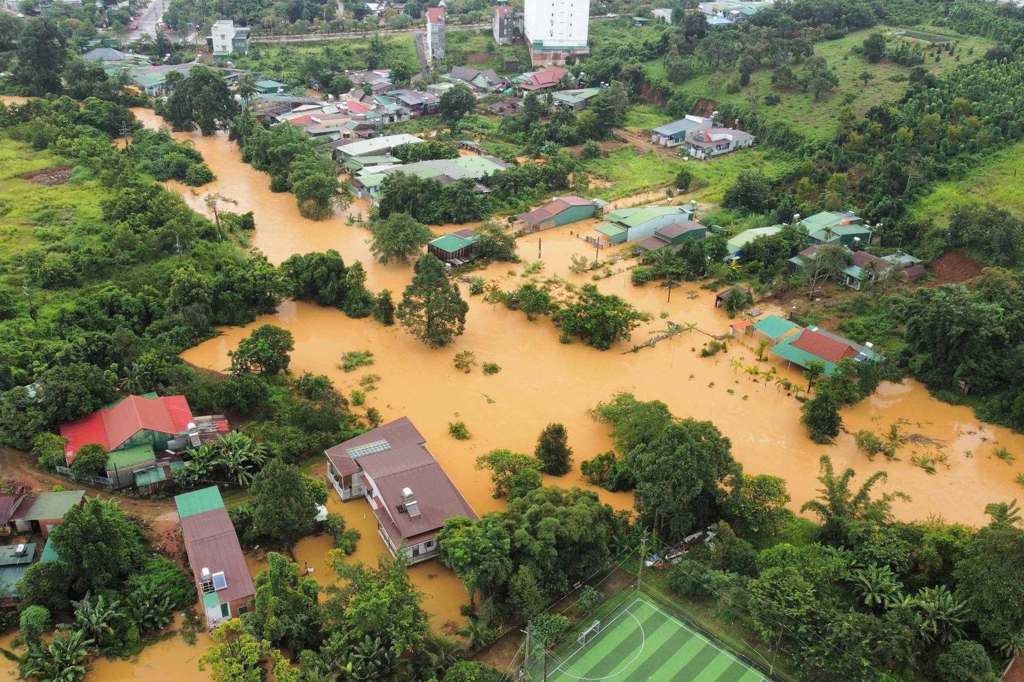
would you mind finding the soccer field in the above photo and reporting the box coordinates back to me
[524,586,788,682]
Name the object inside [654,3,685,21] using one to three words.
house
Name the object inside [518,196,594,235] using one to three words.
barn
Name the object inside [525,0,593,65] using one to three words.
building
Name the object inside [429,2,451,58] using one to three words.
house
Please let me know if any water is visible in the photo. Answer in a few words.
Yes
